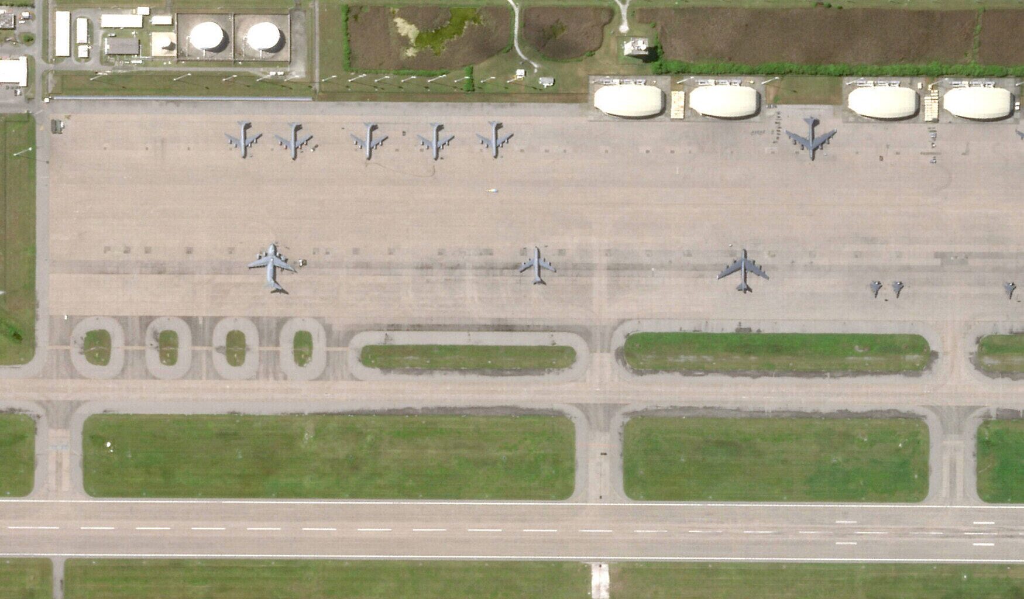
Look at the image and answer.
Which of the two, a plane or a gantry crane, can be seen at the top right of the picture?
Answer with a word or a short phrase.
plane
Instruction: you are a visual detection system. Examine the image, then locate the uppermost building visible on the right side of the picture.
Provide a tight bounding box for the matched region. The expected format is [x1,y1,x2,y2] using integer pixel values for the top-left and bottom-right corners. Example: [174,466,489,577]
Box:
[624,37,649,55]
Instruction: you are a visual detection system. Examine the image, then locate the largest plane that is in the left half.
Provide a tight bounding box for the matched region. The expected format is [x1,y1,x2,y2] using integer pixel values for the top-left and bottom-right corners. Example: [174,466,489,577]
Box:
[249,244,296,291]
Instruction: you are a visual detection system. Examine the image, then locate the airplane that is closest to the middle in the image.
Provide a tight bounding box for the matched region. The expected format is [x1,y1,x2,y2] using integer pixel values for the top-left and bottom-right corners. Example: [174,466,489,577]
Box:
[519,247,555,284]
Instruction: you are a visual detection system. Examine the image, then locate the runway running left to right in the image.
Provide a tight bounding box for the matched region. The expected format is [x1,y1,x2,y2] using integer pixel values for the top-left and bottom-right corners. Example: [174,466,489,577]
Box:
[0,501,1024,561]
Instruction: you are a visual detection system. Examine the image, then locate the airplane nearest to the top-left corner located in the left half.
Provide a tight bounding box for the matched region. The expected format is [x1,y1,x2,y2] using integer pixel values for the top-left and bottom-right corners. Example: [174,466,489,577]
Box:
[225,118,261,157]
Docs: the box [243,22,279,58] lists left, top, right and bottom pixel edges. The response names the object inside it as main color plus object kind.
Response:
white storage tank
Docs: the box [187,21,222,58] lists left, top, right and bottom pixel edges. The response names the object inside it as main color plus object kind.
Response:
white storage tank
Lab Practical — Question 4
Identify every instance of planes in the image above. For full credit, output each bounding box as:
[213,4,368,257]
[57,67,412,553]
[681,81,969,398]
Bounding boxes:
[1005,282,1016,299]
[478,118,514,156]
[351,119,387,158]
[718,249,769,292]
[275,119,311,158]
[249,244,296,291]
[870,281,882,296]
[892,281,904,297]
[418,120,454,158]
[519,247,555,284]
[786,115,837,159]
[225,118,261,157]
